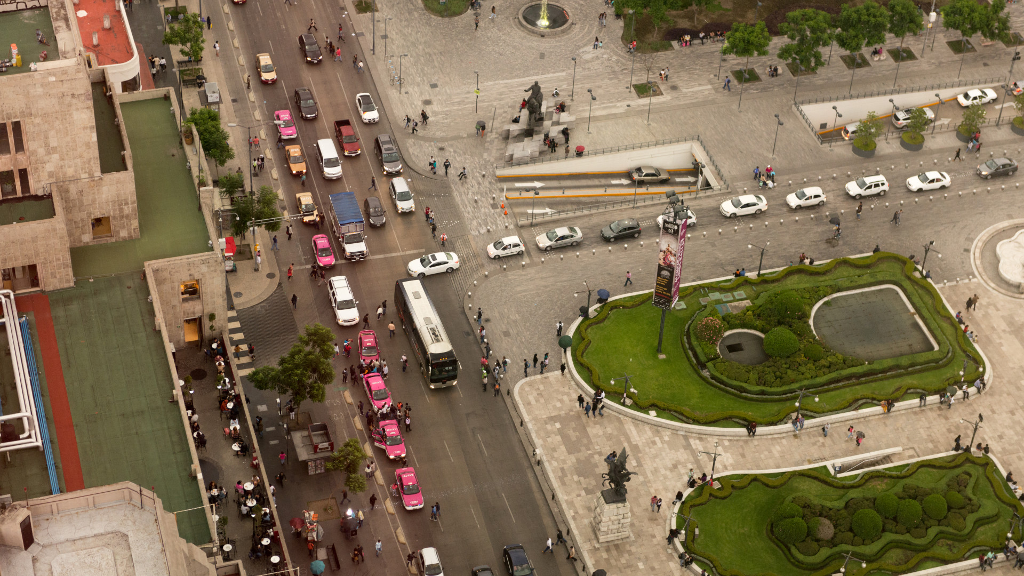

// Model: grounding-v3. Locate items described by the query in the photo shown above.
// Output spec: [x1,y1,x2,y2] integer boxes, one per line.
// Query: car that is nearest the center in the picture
[484,234,529,260]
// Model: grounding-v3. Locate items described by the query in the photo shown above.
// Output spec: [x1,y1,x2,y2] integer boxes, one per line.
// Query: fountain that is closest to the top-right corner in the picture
[972,224,1024,296]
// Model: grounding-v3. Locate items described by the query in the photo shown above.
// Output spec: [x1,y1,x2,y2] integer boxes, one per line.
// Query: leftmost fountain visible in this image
[516,0,578,38]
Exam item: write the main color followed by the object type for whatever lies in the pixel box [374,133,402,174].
gray vehicle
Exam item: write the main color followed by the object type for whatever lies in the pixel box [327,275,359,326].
white car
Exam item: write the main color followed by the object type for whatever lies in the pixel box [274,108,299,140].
pink car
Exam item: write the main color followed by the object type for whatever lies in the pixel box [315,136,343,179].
white car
